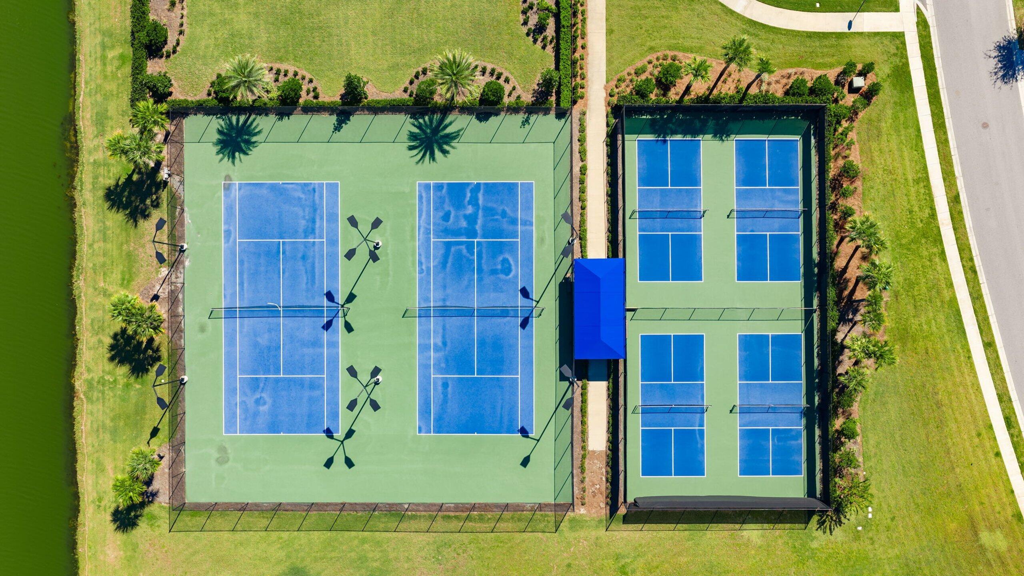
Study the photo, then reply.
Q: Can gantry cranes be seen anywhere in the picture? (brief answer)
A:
No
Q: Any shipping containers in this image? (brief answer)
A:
No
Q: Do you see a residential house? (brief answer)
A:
No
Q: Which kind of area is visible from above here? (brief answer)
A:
sports ground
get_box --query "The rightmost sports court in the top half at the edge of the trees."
[719,112,817,308]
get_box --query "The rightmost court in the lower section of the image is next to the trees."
[721,308,820,501]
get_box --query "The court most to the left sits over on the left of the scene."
[183,115,378,502]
